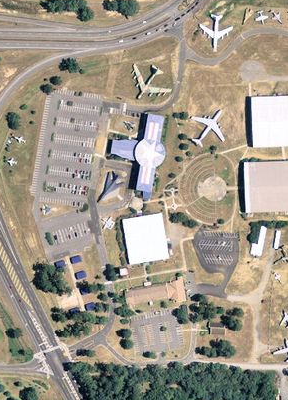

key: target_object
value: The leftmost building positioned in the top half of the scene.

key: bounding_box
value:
[111,114,165,199]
